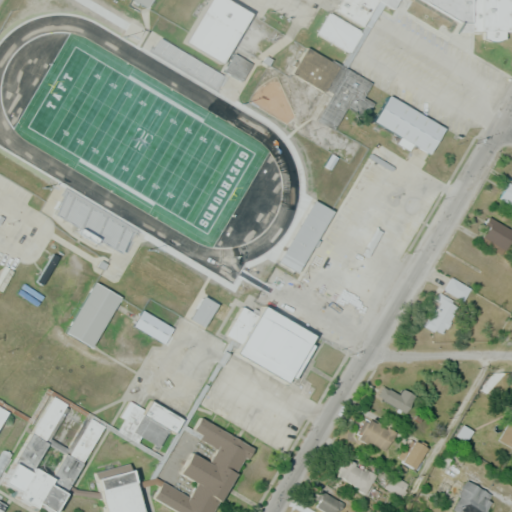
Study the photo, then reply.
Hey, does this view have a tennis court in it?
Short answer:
No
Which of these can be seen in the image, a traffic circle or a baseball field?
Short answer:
baseball field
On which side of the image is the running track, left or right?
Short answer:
left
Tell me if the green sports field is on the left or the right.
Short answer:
left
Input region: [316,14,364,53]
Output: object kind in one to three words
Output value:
building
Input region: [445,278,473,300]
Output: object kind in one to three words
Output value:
house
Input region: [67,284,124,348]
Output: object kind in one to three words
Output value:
building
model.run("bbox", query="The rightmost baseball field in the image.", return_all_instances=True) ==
[251,78,298,124]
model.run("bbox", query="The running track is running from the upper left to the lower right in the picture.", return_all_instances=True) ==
[0,14,307,269]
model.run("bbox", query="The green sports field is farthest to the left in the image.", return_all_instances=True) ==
[14,34,270,247]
